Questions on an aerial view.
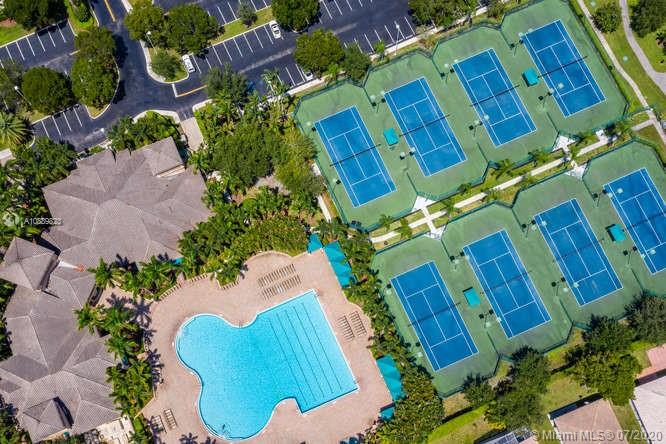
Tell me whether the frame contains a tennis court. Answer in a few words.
Yes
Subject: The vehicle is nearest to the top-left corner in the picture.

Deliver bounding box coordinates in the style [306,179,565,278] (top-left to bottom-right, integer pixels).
[181,53,195,72]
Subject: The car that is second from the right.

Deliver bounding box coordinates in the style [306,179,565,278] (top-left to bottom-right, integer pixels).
[269,22,282,39]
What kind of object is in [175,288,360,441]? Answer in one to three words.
swimming pool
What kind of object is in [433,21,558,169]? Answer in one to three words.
tennis court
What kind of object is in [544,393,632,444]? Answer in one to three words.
house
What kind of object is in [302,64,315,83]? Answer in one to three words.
vehicle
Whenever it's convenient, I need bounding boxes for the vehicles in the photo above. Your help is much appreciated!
[181,53,195,72]
[302,64,315,83]
[269,22,282,39]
